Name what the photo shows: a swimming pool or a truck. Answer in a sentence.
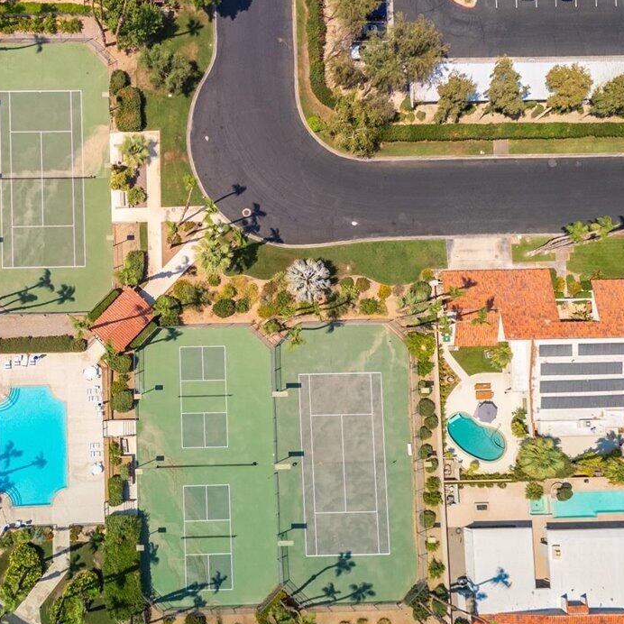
Looking from above, you can make out a swimming pool.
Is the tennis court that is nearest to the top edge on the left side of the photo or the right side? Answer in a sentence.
The tennis court that is nearest to the top edge appears in the left half of the scene.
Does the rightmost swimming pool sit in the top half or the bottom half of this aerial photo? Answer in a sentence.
The rightmost swimming pool sits in the bottom half of the picture.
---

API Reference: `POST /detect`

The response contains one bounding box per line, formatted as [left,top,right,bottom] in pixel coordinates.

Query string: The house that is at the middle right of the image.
[440,269,624,437]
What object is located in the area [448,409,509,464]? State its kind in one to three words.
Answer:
swimming pool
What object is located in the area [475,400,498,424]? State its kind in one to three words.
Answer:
umbrella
